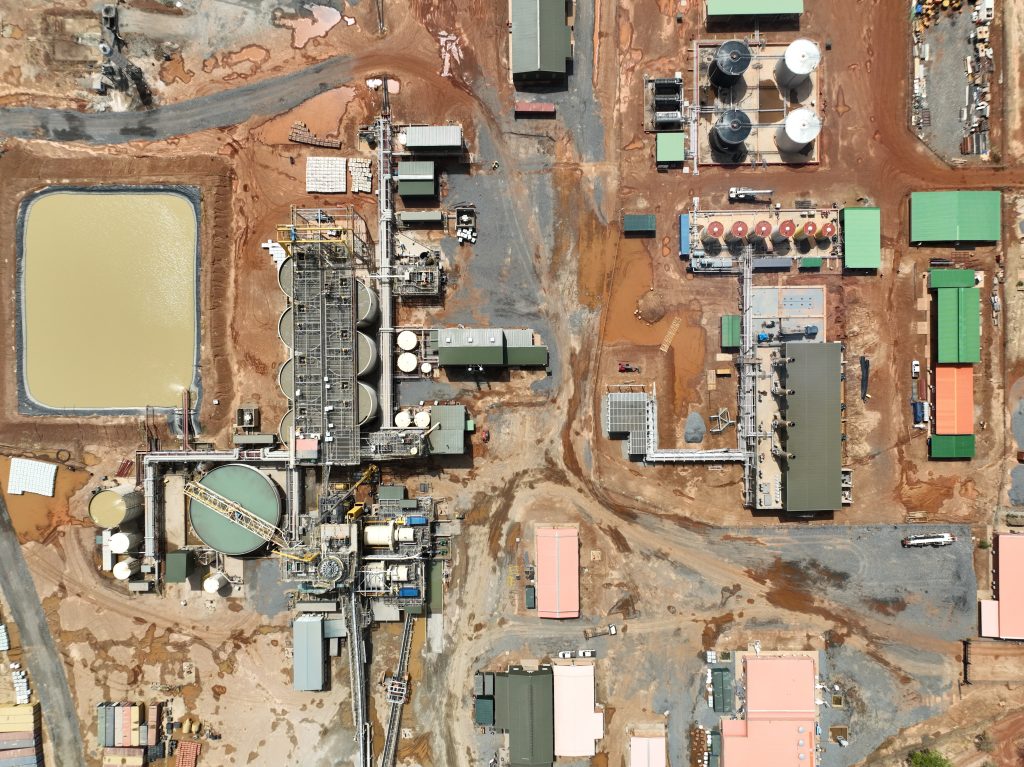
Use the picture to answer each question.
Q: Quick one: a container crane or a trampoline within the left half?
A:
container crane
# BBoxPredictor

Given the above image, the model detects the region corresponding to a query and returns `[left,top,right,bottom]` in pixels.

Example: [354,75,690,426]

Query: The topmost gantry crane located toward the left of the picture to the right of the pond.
[276,208,367,256]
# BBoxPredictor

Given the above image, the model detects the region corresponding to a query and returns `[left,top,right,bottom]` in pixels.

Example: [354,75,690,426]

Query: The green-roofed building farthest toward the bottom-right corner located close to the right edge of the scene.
[924,435,975,458]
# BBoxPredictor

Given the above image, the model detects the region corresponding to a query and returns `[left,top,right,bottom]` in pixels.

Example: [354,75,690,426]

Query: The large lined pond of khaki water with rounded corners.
[18,186,202,415]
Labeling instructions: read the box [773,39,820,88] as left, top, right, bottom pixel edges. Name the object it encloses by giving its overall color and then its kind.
white storage tank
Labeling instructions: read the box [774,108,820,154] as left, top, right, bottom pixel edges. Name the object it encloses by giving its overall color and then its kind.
white storage tank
